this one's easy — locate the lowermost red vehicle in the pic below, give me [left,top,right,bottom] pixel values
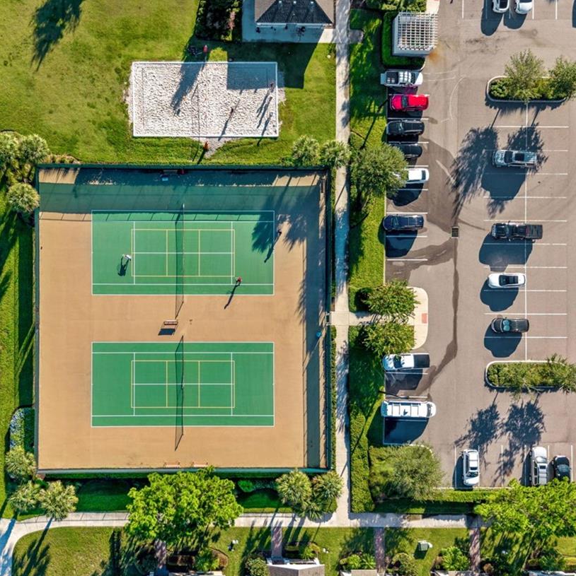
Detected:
[390,93,428,112]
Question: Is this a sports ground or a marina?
sports ground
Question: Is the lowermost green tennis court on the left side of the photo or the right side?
left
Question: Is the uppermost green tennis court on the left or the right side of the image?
left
